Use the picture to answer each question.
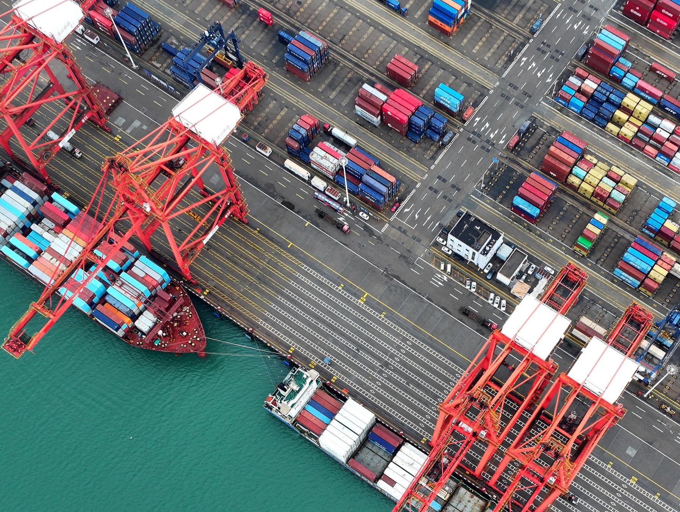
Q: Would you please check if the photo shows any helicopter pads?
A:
No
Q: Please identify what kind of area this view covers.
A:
port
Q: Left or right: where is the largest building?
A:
right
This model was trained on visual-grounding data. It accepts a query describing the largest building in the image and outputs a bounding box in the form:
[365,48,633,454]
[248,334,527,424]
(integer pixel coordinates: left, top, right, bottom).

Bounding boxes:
[447,210,504,268]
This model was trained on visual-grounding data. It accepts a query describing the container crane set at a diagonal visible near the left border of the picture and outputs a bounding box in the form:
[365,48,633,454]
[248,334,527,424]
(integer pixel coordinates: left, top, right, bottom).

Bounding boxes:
[0,61,270,376]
